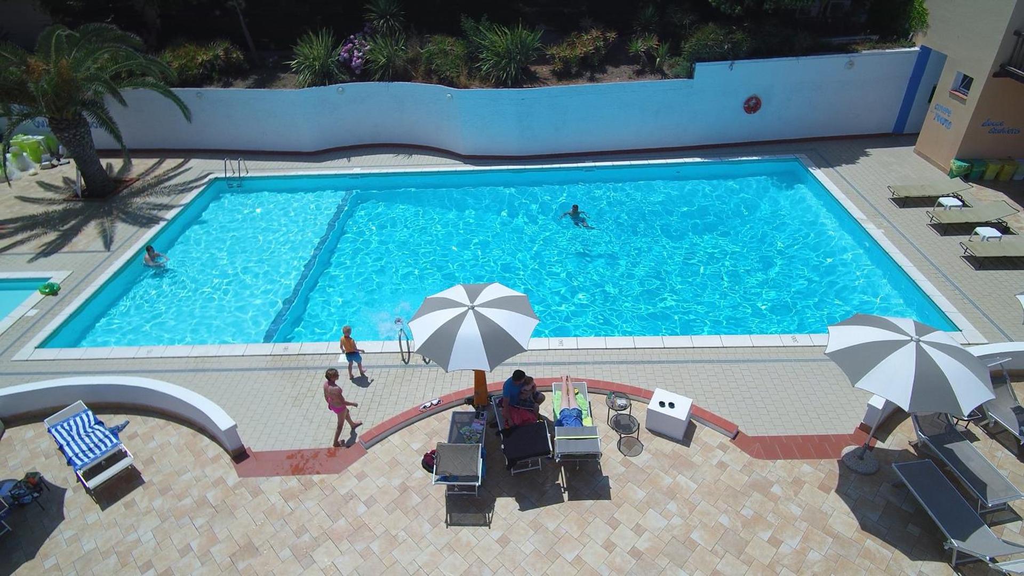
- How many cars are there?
none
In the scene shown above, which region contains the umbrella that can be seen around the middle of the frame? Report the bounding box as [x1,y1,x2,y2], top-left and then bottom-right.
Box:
[409,281,540,411]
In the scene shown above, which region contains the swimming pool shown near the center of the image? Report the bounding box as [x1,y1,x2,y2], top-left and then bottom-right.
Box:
[44,161,953,347]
